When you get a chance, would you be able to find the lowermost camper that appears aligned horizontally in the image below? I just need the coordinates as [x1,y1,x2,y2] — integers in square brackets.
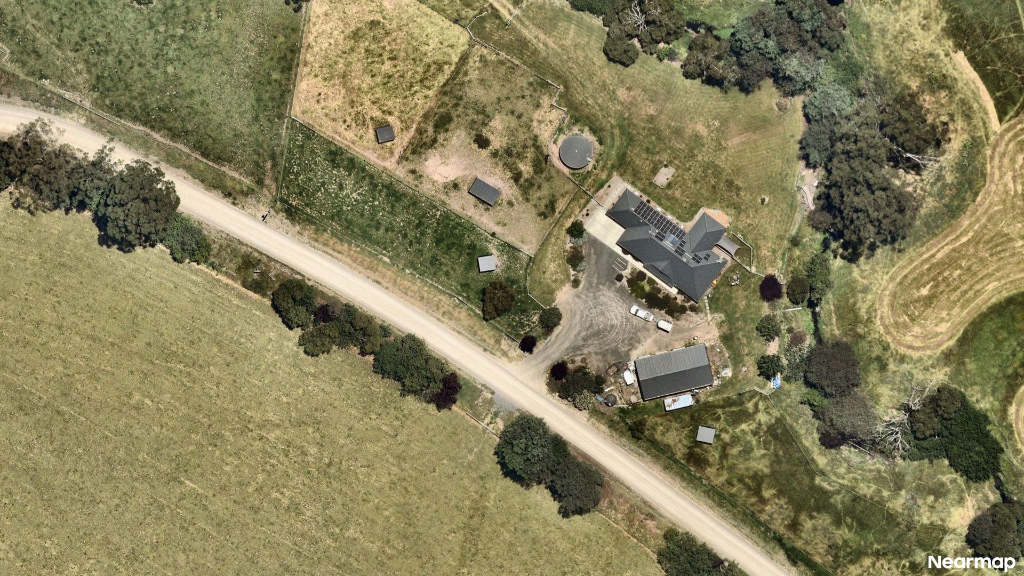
[664,394,693,411]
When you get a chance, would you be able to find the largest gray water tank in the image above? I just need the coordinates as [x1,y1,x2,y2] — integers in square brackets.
[559,134,594,169]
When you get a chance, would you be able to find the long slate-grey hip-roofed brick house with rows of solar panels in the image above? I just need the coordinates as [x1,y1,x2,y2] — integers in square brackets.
[607,188,728,303]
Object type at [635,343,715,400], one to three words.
shed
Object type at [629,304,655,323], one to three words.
vehicle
